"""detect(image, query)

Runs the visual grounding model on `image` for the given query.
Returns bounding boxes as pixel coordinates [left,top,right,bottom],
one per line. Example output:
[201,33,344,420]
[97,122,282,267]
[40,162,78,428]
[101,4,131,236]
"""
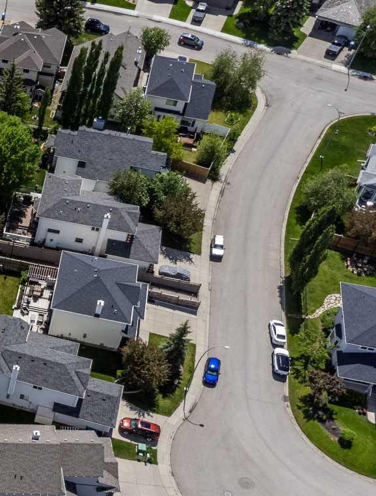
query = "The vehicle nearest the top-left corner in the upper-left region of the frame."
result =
[84,15,111,32]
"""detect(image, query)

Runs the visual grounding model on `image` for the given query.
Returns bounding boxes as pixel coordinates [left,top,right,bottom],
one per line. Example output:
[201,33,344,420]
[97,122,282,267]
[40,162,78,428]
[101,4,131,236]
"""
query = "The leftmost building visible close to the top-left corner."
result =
[0,14,67,94]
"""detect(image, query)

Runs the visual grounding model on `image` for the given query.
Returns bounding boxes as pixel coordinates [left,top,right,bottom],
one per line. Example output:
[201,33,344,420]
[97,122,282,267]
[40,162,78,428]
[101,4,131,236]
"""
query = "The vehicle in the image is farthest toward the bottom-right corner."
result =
[274,347,294,377]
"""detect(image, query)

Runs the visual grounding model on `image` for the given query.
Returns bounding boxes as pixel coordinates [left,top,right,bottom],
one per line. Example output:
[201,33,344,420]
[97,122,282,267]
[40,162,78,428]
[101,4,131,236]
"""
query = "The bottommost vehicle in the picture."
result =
[120,415,162,438]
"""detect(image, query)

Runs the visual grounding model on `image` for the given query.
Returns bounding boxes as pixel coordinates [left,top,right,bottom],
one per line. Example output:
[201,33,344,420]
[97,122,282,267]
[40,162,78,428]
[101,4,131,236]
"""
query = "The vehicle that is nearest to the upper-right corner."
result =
[324,35,345,54]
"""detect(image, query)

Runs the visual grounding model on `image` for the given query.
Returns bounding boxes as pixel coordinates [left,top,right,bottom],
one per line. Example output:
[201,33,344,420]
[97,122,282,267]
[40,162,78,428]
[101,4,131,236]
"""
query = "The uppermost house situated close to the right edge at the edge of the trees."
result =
[312,0,367,39]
